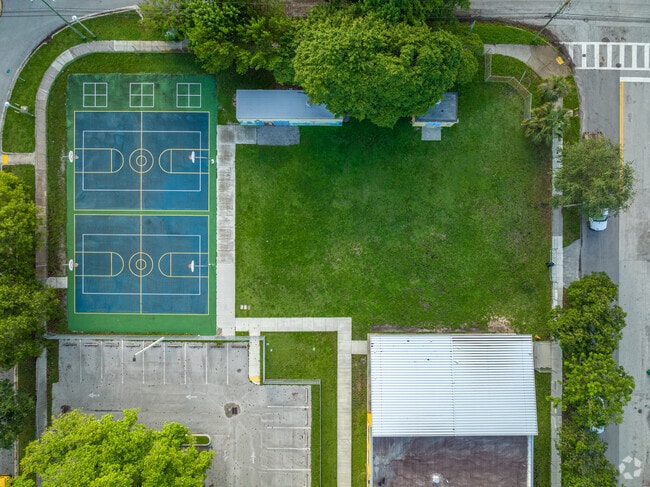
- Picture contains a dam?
No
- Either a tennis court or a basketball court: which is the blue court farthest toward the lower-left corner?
basketball court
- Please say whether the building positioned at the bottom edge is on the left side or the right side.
right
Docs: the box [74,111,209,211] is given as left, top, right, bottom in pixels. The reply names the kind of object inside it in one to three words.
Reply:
basketball court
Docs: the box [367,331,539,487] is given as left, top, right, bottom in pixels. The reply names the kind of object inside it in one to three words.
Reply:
building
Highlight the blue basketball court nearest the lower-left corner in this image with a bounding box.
[74,215,209,314]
